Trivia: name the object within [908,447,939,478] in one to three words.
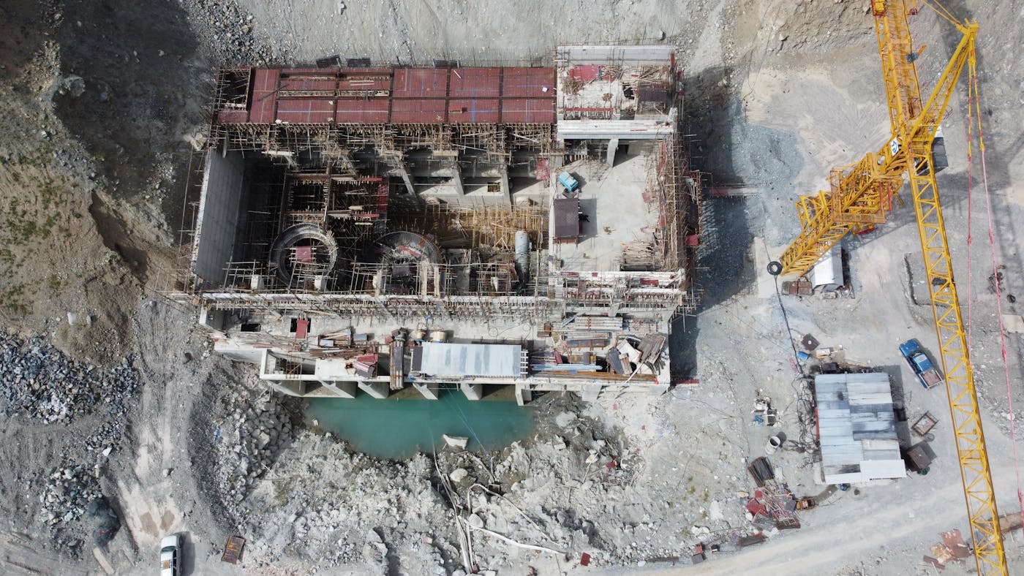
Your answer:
shed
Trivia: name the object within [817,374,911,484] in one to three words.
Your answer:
shed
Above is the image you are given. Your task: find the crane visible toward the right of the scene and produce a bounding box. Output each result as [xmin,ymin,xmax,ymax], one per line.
[774,0,1024,576]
